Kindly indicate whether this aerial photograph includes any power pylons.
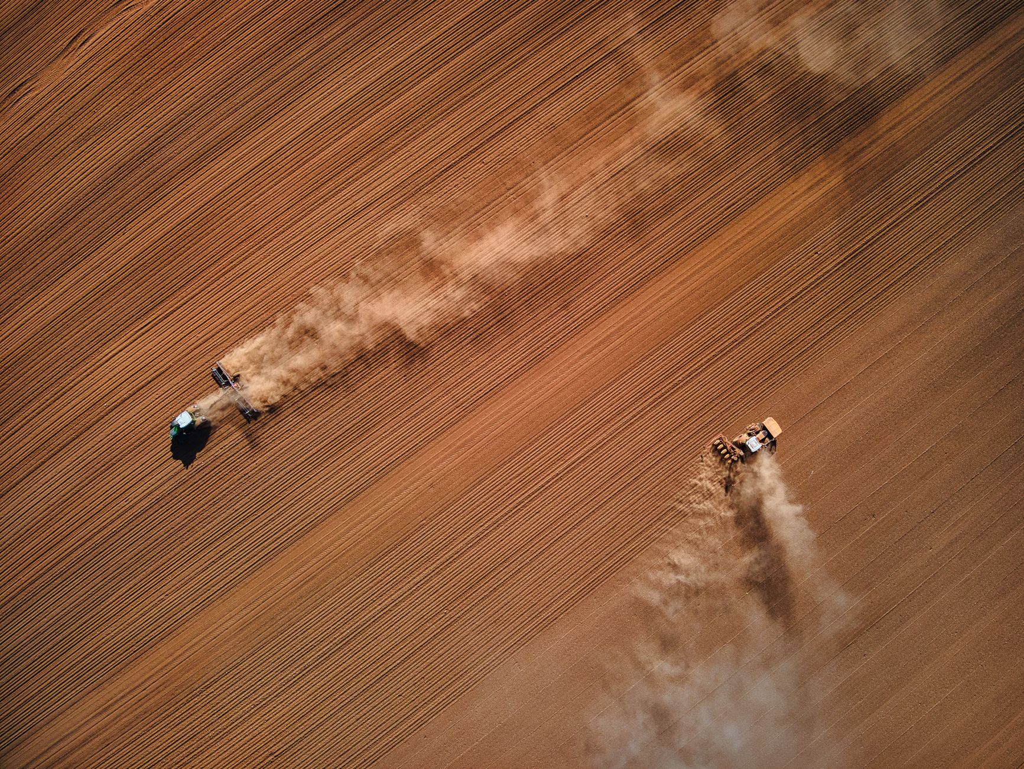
No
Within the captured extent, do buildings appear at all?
No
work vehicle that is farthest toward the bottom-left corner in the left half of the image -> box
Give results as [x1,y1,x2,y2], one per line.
[169,404,209,440]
